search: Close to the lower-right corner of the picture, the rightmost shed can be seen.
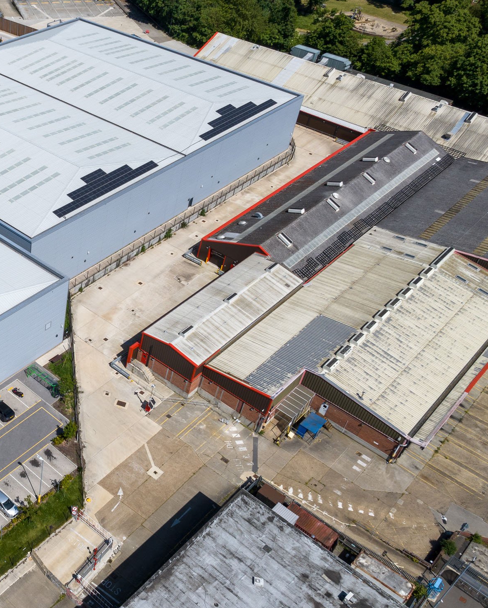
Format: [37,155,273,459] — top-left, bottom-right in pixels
[450,541,488,607]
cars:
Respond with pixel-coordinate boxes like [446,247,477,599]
[0,399,13,424]
[0,487,18,520]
